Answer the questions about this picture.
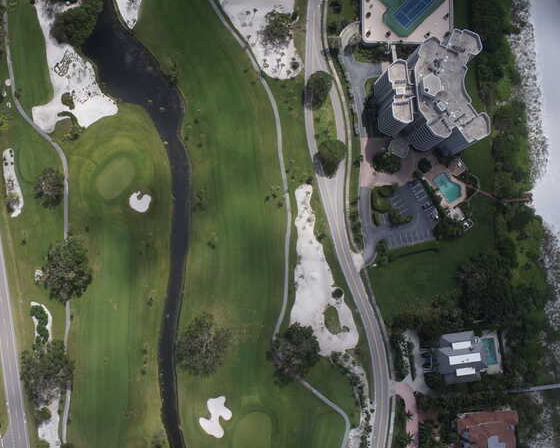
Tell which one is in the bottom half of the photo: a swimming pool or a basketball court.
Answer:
swimming pool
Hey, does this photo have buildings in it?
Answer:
Yes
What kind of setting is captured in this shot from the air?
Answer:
golf course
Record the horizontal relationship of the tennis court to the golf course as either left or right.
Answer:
to the right of it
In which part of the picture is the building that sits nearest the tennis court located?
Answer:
top right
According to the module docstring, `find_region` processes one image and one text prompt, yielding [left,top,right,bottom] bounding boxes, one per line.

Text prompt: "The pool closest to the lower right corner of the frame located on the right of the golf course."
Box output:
[479,330,502,374]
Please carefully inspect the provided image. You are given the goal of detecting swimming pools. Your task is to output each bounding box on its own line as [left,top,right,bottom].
[479,330,502,374]
[424,169,465,207]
